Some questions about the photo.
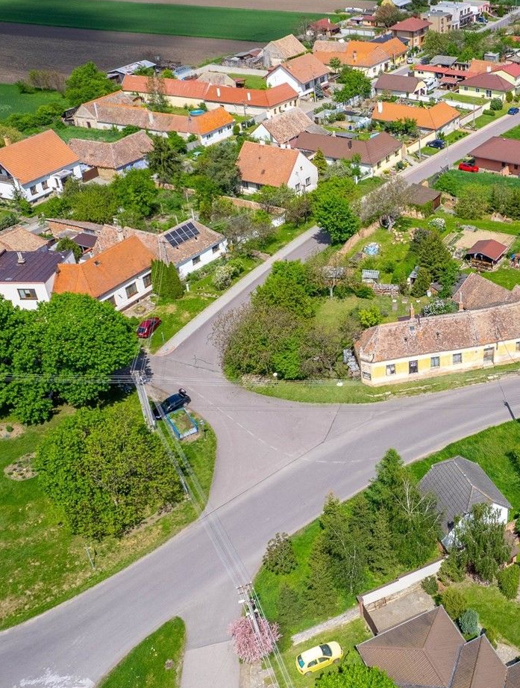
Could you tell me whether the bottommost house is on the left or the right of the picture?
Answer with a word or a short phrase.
right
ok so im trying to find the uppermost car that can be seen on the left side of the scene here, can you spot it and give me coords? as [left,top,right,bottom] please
[136,317,160,334]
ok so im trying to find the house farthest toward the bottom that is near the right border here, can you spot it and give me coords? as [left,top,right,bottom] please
[354,604,520,688]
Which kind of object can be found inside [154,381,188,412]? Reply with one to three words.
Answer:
car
